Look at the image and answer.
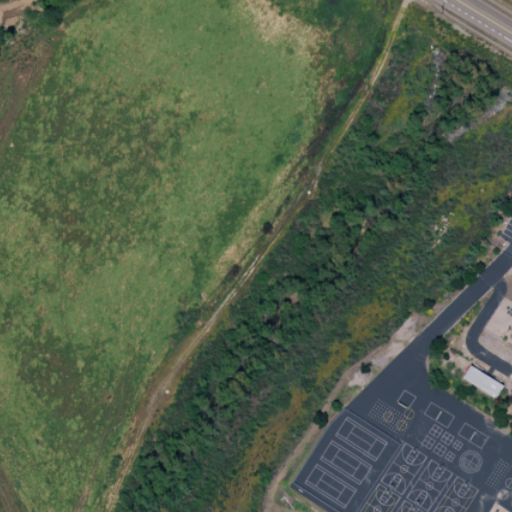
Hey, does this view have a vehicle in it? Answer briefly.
No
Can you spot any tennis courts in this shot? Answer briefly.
Yes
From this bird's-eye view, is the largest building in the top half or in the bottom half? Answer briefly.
bottom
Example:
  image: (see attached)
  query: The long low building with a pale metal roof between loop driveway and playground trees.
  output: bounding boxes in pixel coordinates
[464,366,504,398]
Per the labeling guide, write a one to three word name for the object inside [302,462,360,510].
tennis court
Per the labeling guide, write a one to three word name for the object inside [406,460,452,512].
basketball court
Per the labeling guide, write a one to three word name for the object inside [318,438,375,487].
tennis court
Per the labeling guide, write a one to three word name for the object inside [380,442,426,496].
basketball court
